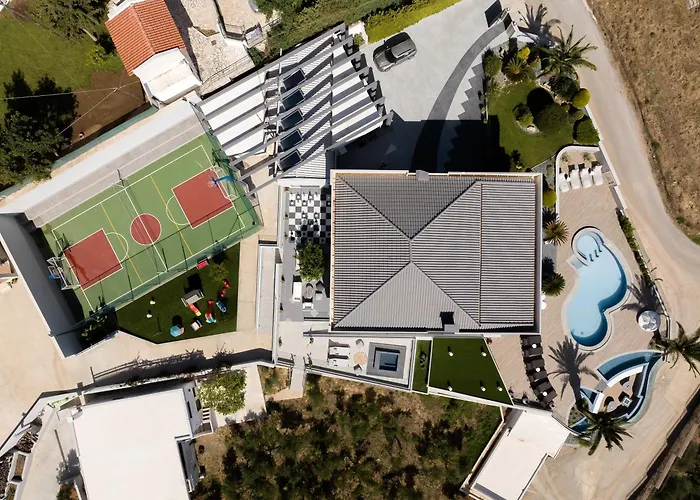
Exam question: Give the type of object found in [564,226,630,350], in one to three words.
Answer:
swimming pool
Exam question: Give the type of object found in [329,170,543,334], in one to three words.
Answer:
house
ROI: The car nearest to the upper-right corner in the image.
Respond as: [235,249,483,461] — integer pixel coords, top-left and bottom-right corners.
[373,32,418,70]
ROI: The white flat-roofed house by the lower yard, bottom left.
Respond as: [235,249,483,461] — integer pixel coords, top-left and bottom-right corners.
[70,374,218,500]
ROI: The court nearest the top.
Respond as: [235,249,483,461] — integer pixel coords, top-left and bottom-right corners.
[41,133,261,332]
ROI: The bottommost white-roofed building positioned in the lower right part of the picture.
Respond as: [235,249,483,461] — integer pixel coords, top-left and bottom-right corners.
[453,410,572,500]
